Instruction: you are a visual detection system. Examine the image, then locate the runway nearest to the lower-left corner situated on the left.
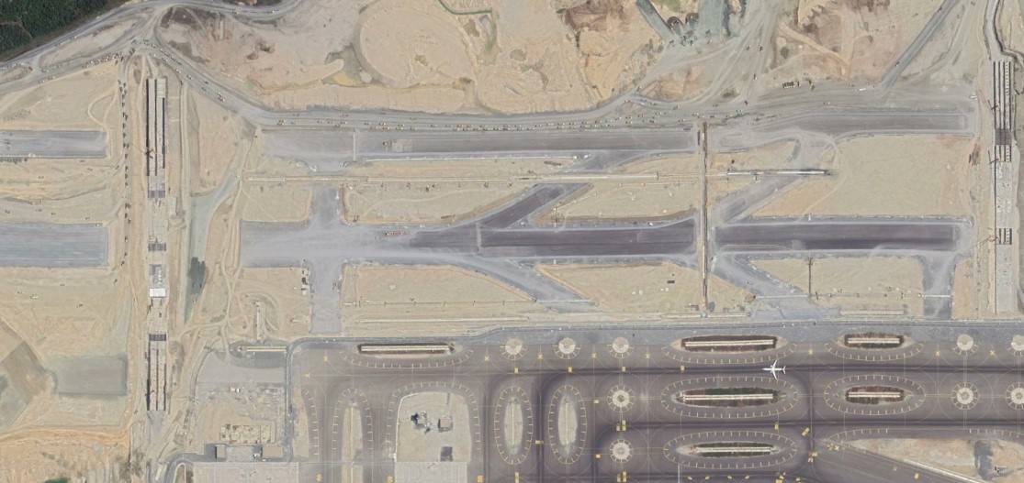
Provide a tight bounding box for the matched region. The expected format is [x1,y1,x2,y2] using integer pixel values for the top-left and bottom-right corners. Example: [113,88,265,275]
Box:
[0,223,108,268]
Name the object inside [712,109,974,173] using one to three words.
runway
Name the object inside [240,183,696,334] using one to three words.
runway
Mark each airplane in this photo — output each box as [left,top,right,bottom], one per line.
[762,360,786,380]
